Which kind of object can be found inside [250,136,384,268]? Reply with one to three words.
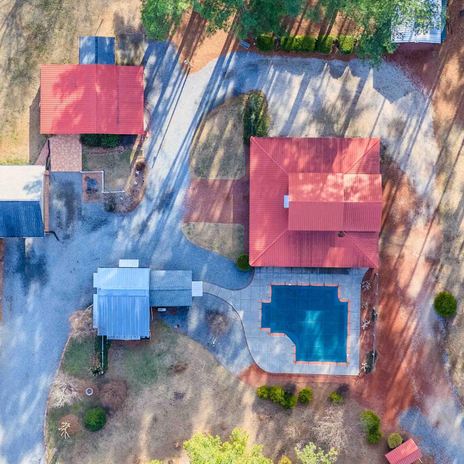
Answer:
building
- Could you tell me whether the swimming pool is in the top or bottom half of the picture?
bottom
